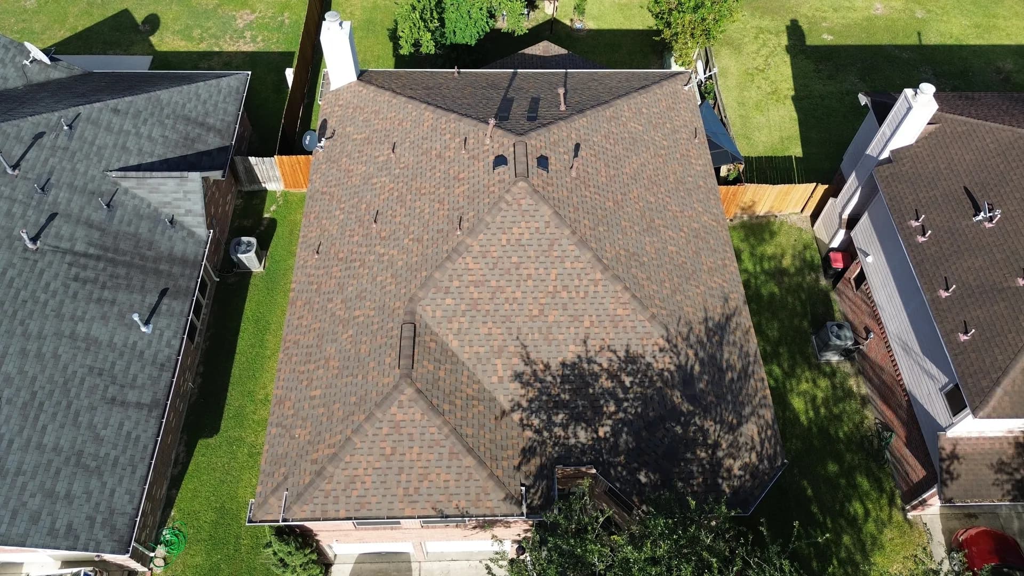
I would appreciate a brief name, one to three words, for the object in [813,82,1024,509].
house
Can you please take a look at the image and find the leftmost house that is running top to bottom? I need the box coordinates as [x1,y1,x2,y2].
[0,34,254,570]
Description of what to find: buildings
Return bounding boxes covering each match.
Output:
[0,34,254,570]
[245,14,790,564]
[813,82,1024,509]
